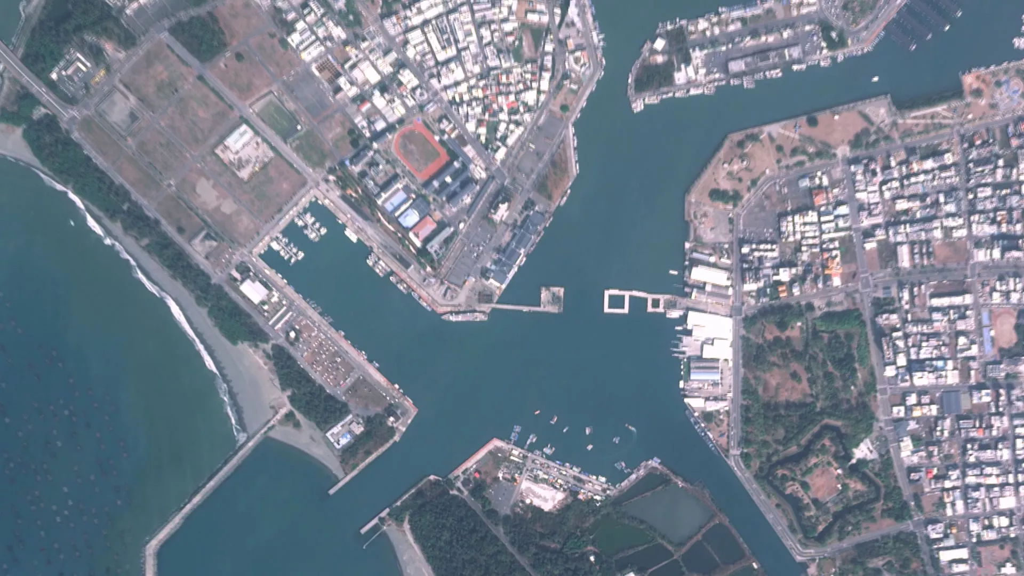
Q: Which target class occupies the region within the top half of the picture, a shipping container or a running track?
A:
running track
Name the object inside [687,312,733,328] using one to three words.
shed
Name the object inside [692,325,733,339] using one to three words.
shed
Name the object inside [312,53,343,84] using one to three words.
building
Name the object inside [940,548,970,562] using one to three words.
building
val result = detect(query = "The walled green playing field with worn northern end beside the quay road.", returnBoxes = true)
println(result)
[248,90,303,142]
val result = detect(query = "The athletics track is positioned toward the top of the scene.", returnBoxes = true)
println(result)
[394,117,449,181]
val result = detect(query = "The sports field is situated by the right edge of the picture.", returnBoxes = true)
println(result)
[992,308,1018,355]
